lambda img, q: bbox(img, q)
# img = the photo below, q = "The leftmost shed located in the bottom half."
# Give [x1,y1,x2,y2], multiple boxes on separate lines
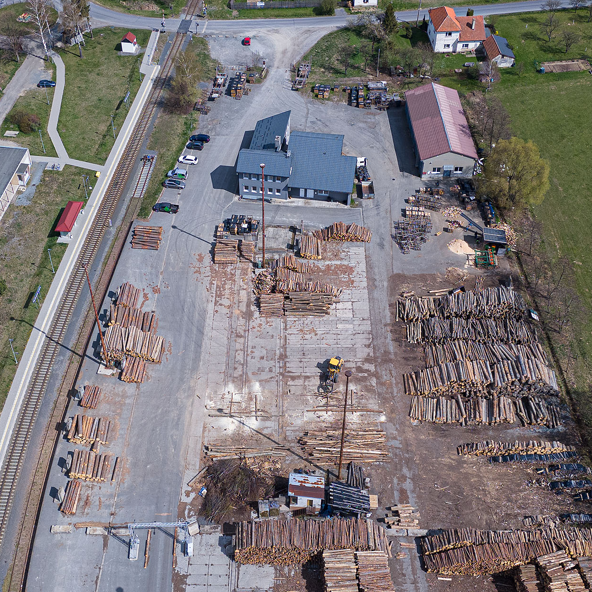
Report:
[286,472,324,517]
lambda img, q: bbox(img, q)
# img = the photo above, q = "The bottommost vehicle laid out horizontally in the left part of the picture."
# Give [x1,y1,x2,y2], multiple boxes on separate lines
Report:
[152,201,179,214]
